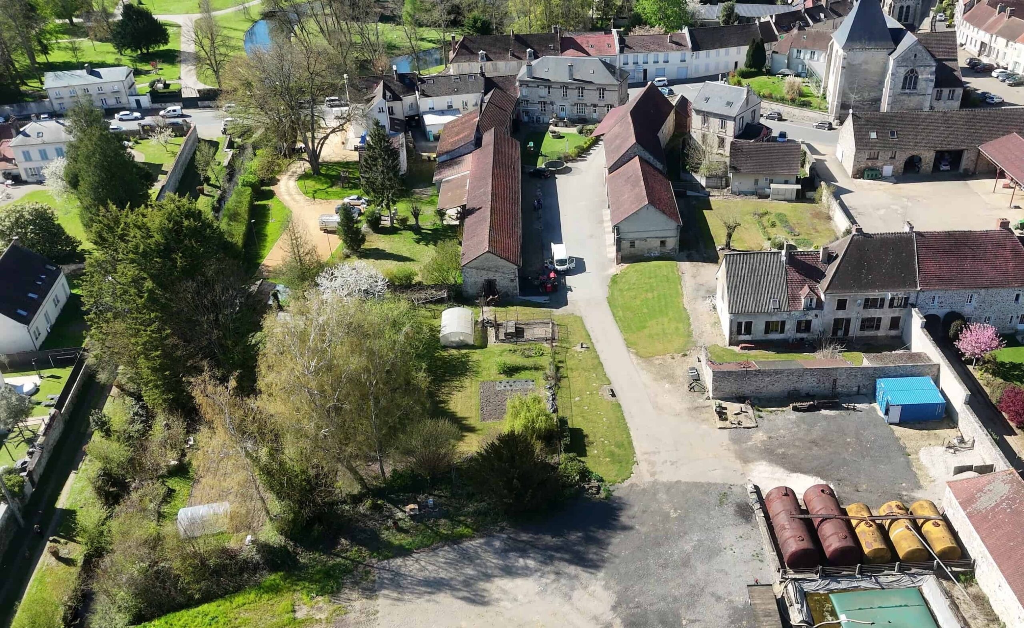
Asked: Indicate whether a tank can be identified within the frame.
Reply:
Yes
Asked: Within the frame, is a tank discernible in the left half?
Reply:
No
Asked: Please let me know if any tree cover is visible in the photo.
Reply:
Yes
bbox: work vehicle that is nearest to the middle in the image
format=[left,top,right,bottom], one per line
[539,275,558,293]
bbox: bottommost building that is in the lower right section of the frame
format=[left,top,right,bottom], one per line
[940,456,1024,628]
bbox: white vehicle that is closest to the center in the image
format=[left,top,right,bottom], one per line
[546,238,577,277]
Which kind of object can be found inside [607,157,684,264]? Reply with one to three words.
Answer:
barn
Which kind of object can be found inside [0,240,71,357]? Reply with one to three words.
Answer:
house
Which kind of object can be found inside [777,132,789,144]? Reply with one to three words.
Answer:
vehicle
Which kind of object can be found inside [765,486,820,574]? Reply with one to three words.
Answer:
storage tank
